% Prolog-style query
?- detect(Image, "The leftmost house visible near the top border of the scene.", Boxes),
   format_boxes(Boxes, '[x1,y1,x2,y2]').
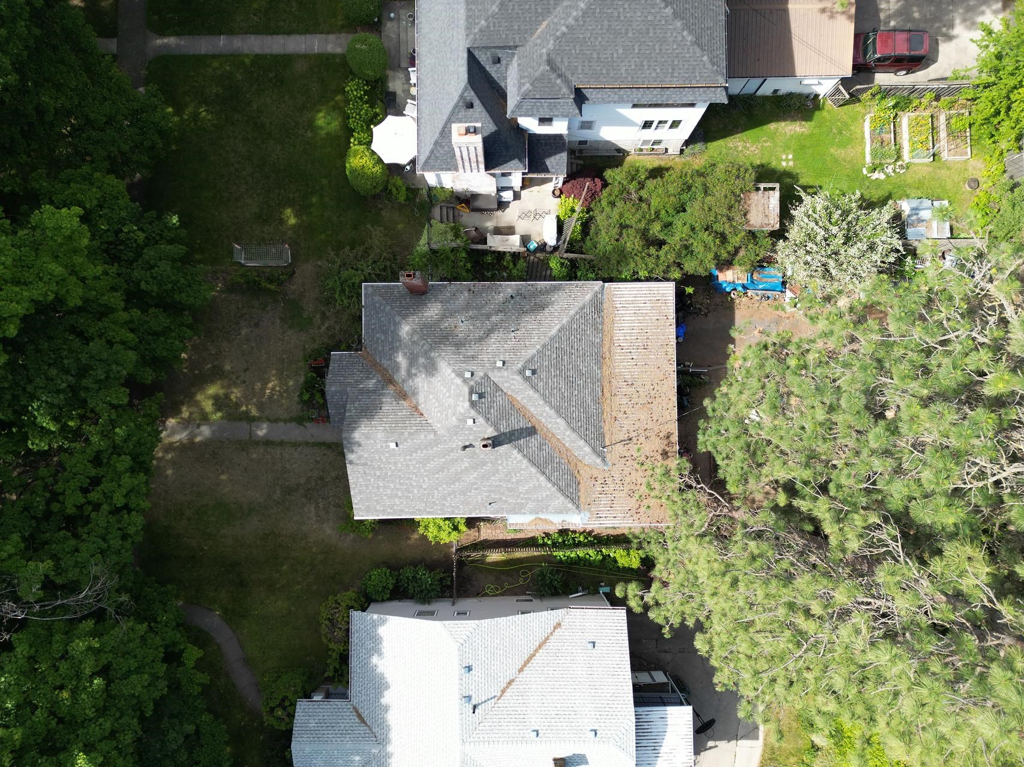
[414,0,731,197]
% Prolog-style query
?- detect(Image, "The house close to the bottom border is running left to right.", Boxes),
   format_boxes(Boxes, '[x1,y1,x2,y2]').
[291,592,696,767]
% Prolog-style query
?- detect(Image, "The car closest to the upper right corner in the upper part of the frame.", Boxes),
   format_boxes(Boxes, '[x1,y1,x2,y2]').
[853,29,929,74]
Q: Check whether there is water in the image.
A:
No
